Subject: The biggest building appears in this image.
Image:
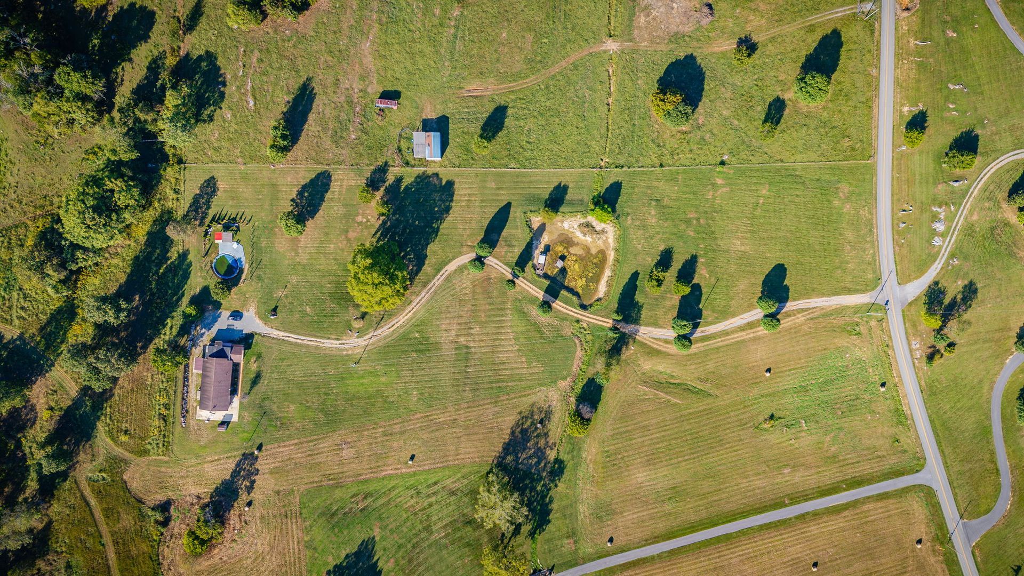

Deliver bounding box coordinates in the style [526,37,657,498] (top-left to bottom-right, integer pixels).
[194,344,247,421]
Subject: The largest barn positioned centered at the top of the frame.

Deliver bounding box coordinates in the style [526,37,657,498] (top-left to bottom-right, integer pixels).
[413,132,441,159]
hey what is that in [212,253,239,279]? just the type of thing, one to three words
swimming pool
